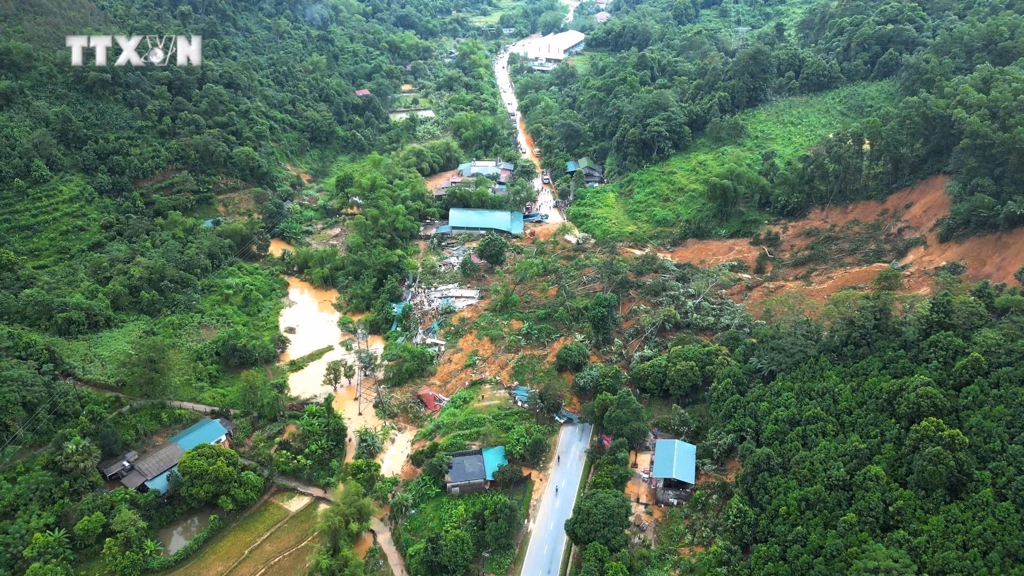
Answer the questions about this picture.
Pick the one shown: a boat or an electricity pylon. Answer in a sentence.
There is an electricity pylon in the scene.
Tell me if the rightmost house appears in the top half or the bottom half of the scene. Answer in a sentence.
The bottom half of the photo is where the rightmost house is.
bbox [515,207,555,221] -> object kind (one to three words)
vehicle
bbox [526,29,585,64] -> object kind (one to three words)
building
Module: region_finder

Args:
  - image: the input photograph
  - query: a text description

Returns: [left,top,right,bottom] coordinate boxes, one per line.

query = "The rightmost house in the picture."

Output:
[651,439,696,504]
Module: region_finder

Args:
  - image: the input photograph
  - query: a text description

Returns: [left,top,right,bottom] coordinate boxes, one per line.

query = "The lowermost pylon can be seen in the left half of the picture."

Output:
[335,323,384,415]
